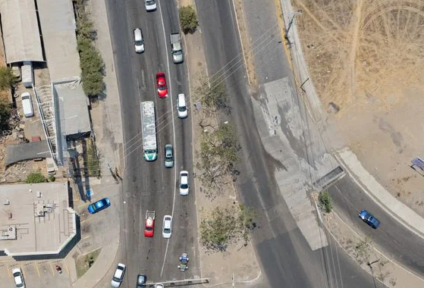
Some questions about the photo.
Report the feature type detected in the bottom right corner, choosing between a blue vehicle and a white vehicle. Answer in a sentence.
Visible in the bottom right corner is a blue vehicle.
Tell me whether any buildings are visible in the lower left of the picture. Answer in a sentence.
Yes, the scene does show a building in the lower left of the picture.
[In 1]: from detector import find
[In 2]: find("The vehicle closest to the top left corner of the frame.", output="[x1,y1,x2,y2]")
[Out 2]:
[21,60,34,91]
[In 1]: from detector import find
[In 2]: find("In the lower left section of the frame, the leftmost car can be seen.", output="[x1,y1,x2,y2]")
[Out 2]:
[12,267,25,288]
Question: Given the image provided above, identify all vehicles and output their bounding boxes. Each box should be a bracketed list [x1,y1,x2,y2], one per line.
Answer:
[21,60,34,91]
[155,282,163,288]
[165,145,174,168]
[134,27,144,53]
[358,211,381,229]
[179,171,189,196]
[21,94,34,119]
[171,32,182,63]
[135,274,147,288]
[144,0,155,11]
[156,72,168,97]
[176,94,187,119]
[144,210,154,237]
[162,215,173,238]
[86,198,111,213]
[12,267,25,288]
[111,262,126,288]
[142,98,159,162]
